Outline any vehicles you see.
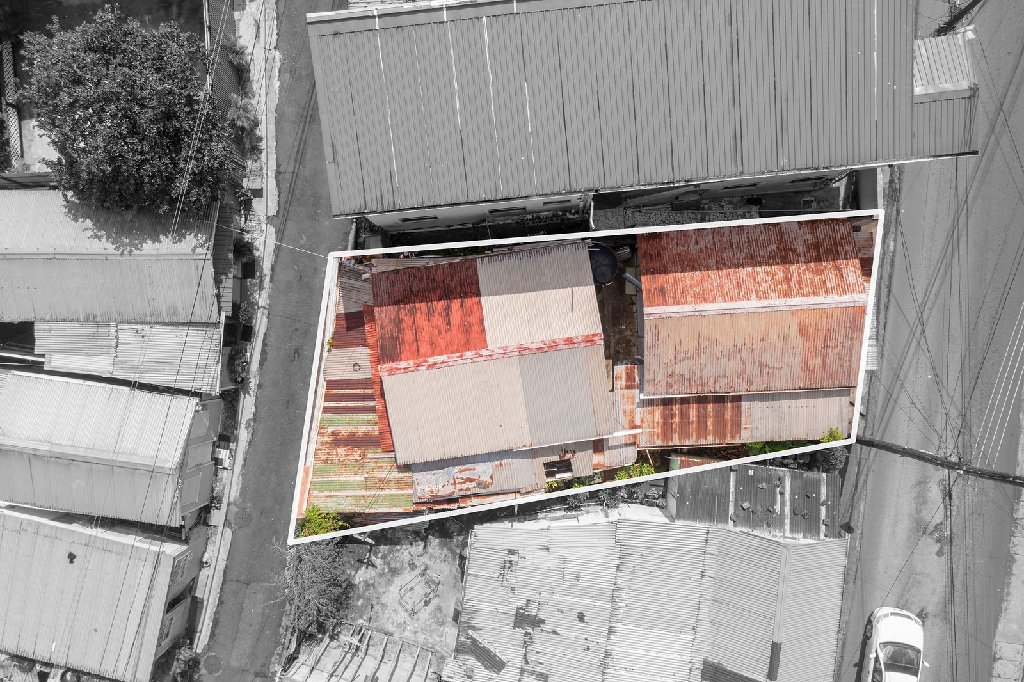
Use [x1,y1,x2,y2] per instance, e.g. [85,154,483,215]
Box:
[862,604,931,682]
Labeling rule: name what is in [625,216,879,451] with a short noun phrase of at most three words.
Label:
house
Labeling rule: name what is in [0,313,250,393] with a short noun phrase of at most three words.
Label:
shed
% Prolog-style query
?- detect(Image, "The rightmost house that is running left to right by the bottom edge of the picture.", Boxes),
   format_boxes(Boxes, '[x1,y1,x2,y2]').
[442,509,849,682]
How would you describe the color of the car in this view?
white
